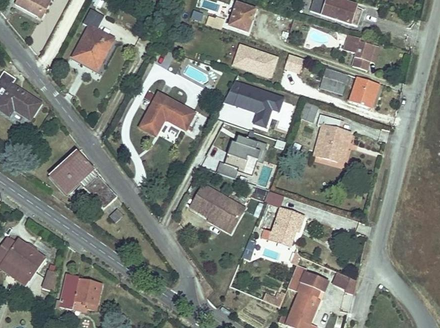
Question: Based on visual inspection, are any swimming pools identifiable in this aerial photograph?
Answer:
Yes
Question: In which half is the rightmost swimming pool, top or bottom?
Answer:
top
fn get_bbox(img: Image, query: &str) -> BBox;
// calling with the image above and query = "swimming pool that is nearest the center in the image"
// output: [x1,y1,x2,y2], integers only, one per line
[252,162,276,189]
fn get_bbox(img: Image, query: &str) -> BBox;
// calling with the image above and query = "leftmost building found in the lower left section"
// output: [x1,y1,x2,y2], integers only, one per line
[0,237,46,283]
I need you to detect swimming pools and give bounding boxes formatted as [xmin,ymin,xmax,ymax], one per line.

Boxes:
[304,28,346,48]
[252,162,276,189]
[195,0,232,20]
[262,248,280,260]
[179,58,222,88]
